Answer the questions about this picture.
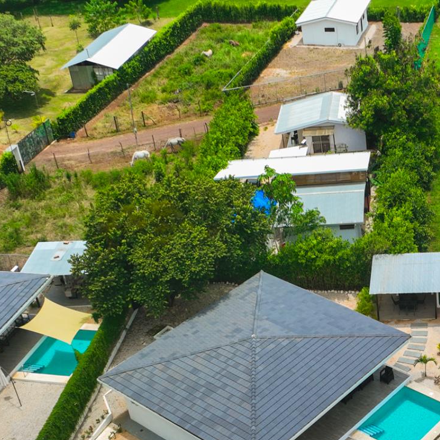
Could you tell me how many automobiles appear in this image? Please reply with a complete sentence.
The picture shows no automobiles.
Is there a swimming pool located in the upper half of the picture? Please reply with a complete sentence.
No, no swimming pool appears in the upper half of the picture.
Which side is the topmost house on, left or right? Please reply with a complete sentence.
It is on the right.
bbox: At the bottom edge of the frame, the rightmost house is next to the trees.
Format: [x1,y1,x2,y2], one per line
[98,270,413,440]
